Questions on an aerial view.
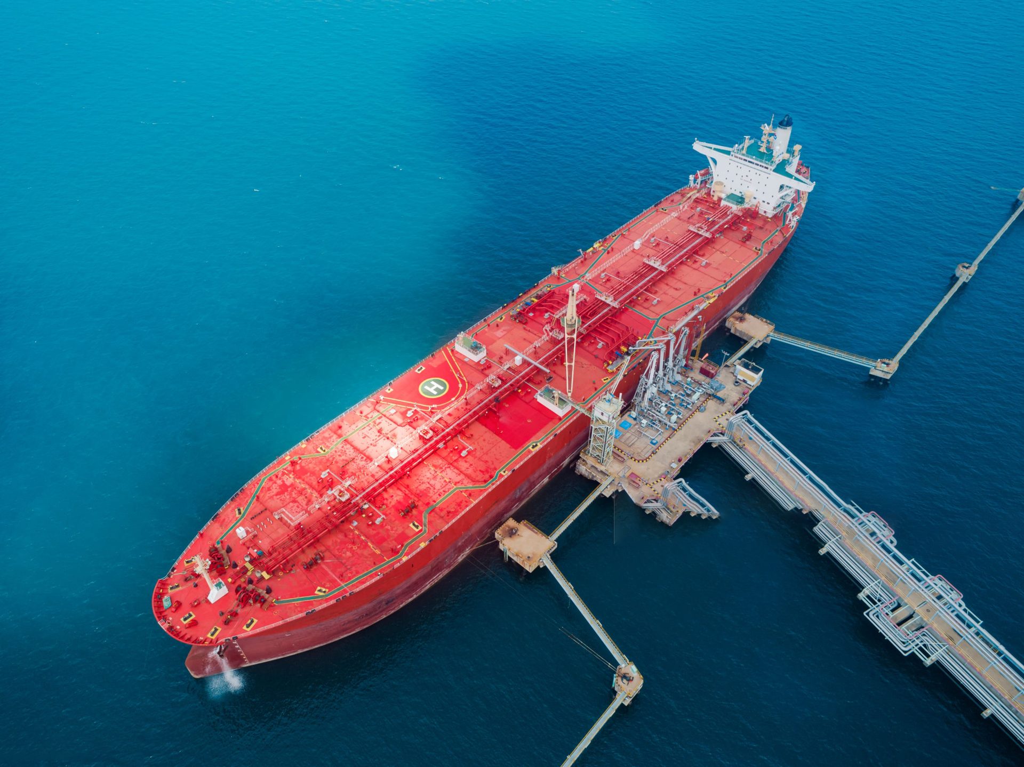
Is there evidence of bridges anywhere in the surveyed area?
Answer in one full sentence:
Yes, the photo shows a bridge.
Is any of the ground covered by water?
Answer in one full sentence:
Yes, the picture does contain water.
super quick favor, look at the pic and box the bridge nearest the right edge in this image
[970,197,1024,266]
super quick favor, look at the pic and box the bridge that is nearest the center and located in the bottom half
[549,474,615,542]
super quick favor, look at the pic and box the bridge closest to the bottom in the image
[556,689,627,767]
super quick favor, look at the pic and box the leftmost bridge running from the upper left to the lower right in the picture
[542,553,629,665]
